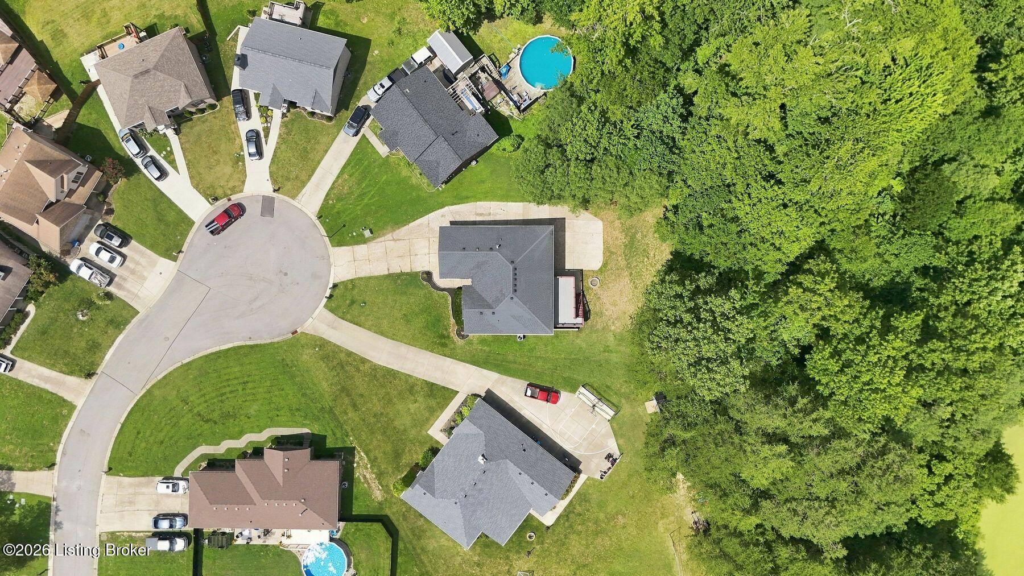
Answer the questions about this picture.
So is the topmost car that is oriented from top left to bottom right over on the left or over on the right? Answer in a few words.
left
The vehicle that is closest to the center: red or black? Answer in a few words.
red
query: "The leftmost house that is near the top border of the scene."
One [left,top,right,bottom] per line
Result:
[93,26,216,133]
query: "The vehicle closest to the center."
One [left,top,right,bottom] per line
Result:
[524,385,561,405]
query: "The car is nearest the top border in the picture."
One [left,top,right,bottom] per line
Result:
[401,42,436,74]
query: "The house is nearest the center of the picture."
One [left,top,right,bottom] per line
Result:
[438,226,555,335]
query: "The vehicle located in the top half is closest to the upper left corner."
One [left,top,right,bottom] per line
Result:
[116,128,151,161]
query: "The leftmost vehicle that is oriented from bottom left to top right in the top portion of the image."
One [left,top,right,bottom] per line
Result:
[203,204,246,236]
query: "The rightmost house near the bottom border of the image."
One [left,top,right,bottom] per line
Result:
[400,397,576,549]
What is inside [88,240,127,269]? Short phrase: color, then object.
white car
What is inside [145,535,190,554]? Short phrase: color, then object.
white vehicle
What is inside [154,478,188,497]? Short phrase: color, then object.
white car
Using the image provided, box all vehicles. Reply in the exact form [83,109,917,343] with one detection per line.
[229,87,250,123]
[152,513,188,531]
[138,153,170,186]
[116,128,151,161]
[401,42,436,74]
[524,385,561,405]
[67,256,114,291]
[145,535,190,554]
[367,60,410,104]
[203,204,246,236]
[154,478,188,497]
[243,128,263,161]
[88,240,127,269]
[93,221,132,249]
[0,353,16,373]
[342,102,370,139]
